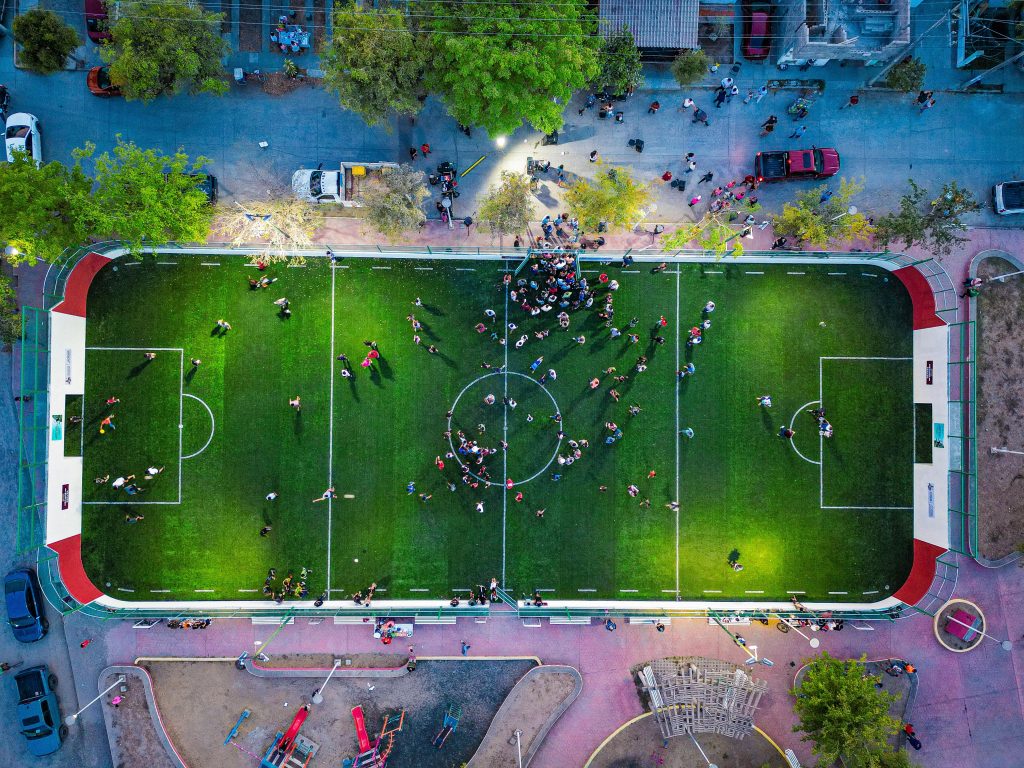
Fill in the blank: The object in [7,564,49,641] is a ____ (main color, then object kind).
blue car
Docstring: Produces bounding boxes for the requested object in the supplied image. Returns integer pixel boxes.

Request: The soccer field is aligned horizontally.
[68,254,930,603]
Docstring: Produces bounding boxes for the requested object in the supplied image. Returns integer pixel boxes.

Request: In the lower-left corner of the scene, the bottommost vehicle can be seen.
[18,658,72,756]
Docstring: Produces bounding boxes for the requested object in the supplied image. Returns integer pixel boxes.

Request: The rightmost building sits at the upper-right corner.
[777,0,916,68]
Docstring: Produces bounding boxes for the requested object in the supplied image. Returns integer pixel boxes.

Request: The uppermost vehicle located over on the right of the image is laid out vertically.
[738,0,775,73]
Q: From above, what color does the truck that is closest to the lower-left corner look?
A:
blue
